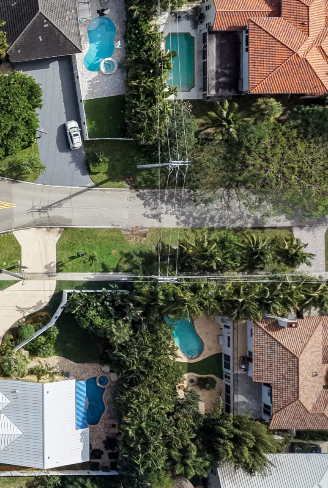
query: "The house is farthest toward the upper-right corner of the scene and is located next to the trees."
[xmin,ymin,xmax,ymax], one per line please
[202,0,328,95]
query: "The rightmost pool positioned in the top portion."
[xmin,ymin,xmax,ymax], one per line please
[159,32,196,93]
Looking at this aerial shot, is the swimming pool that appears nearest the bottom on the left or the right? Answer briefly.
left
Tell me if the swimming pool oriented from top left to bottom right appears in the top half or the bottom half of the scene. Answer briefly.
bottom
